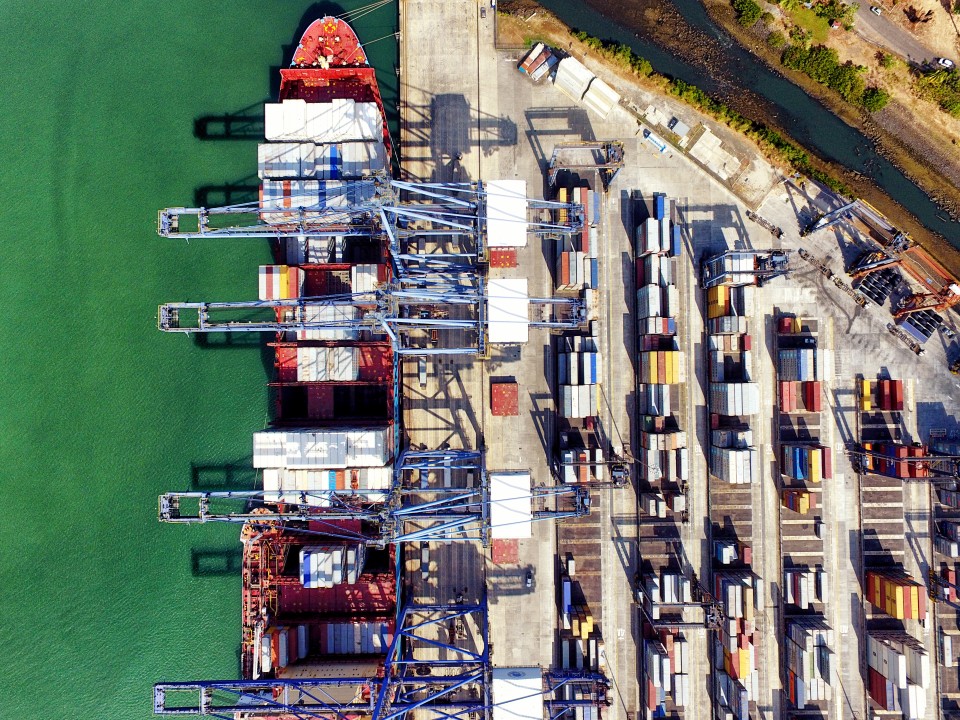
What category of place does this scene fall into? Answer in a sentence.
It's a port.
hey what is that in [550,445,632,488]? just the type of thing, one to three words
container crane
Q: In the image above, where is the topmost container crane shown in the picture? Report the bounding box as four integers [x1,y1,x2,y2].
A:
[547,141,625,195]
